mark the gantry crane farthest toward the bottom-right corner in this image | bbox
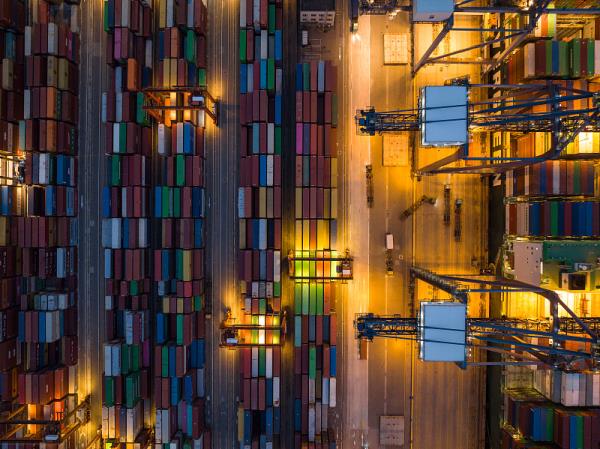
[356,267,600,370]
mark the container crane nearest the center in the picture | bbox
[288,251,354,281]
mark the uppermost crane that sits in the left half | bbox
[142,87,218,127]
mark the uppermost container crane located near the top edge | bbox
[350,0,600,83]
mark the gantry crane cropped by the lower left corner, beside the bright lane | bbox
[0,393,94,444]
